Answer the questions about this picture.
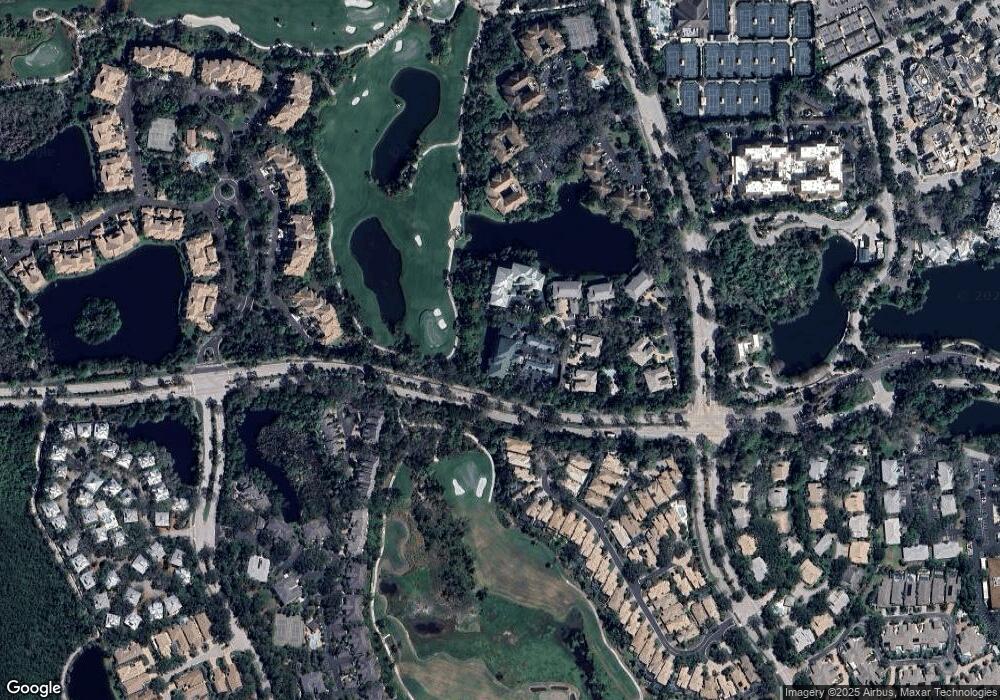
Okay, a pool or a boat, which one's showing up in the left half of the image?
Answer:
pool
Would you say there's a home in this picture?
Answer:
Yes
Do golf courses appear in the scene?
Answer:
Yes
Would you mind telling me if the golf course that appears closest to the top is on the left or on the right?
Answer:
left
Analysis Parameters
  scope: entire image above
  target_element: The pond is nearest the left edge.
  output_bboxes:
[64,645,118,700]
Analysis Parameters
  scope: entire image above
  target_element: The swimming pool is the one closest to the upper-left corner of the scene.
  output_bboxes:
[181,147,215,171]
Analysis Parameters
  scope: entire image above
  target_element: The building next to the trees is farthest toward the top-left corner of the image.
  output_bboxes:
[92,64,127,103]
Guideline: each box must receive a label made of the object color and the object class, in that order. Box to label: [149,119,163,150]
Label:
gray tennis court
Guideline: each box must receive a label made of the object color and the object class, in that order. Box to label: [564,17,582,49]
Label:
gray tennis court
